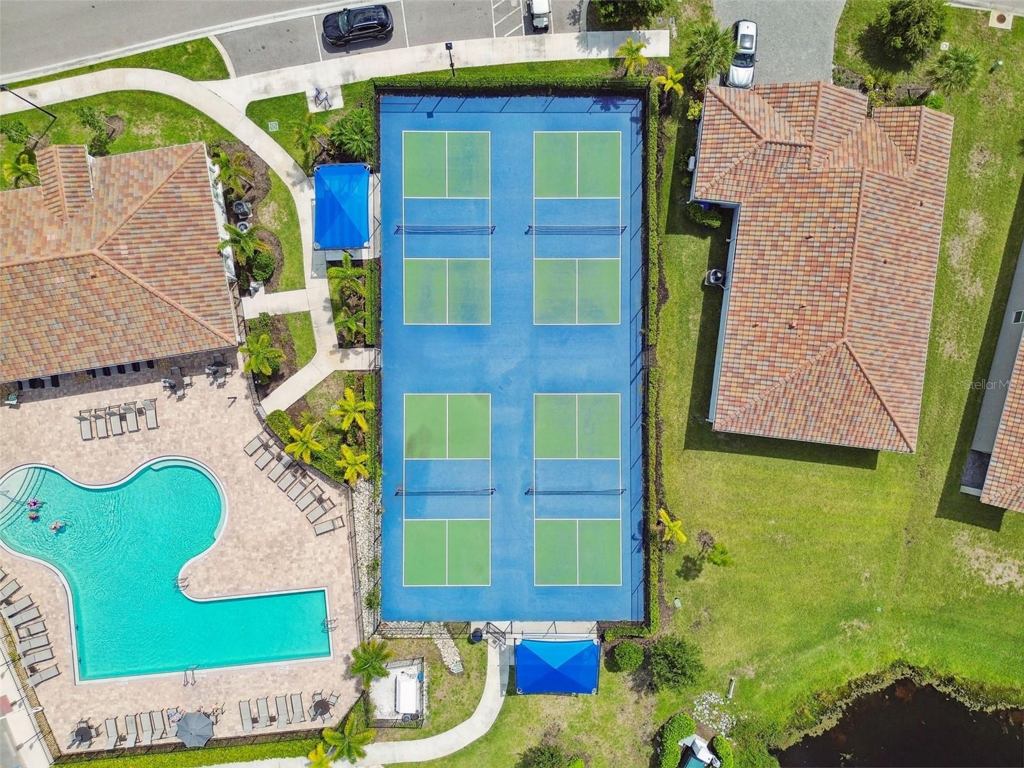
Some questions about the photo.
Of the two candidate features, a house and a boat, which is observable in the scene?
house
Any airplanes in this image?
No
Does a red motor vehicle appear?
No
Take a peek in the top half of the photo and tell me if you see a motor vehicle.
Yes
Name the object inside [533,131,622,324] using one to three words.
sports court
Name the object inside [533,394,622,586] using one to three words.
sports court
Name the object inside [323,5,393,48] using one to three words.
car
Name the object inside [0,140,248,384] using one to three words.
building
